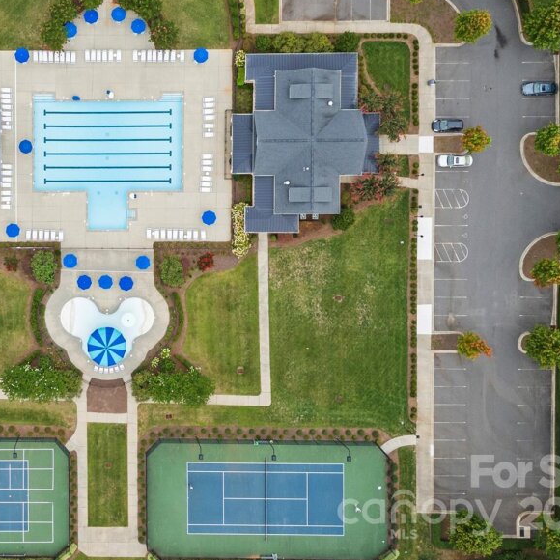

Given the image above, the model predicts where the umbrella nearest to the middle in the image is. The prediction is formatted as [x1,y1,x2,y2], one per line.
[201,210,216,225]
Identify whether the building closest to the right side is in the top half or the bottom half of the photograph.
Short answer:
top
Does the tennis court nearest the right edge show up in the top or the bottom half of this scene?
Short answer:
bottom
